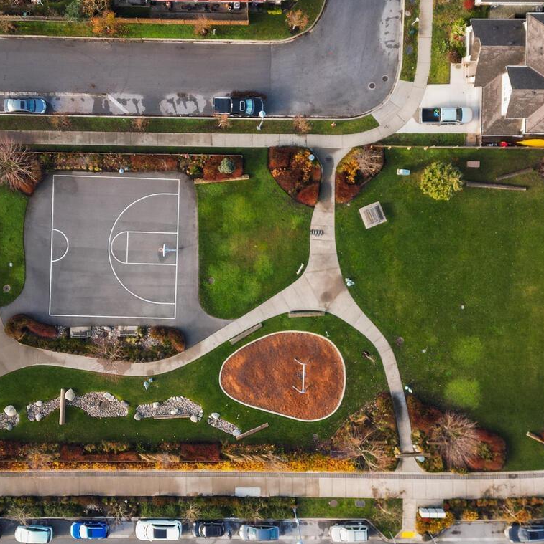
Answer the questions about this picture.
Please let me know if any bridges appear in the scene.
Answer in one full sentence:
No, there's no bridge here.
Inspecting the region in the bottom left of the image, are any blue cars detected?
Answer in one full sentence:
Yes, a blue car appears in the bottom left of the image.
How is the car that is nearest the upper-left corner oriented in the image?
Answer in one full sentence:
The car that is nearest the upper-left corner is laid out from side to side.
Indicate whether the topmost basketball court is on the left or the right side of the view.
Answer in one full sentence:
It is on the left.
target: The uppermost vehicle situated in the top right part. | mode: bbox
[422,102,475,124]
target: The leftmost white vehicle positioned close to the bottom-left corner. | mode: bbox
[14,525,52,544]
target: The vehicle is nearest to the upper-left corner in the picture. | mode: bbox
[2,94,45,115]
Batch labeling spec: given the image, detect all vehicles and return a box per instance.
[69,522,108,544]
[330,524,370,544]
[195,521,226,543]
[422,102,475,124]
[240,524,280,544]
[507,523,544,544]
[213,93,264,116]
[136,520,181,544]
[14,525,52,544]
[2,94,45,115]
